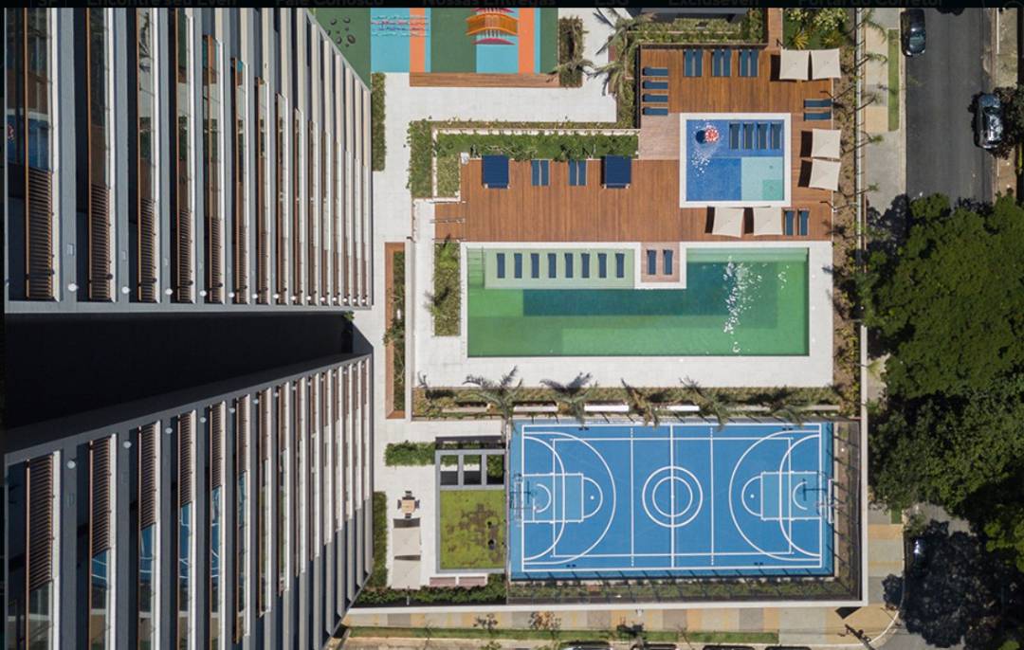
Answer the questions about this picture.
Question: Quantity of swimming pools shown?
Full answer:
The count of swimming pools comes to 2.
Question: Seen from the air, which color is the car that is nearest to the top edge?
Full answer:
In this view, the car that is nearest to the top edge is black.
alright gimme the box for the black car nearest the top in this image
[899,10,927,59]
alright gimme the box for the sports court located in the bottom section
[510,419,834,577]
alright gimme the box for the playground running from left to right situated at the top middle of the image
[300,0,558,91]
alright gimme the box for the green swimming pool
[462,242,815,361]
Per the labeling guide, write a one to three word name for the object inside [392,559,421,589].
umbrella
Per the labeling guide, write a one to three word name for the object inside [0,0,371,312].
building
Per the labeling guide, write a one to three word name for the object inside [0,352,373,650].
building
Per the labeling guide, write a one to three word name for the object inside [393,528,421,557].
umbrella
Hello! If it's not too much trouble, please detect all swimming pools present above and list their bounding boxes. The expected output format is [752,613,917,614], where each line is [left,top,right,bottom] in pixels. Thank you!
[680,113,791,206]
[462,242,815,361]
